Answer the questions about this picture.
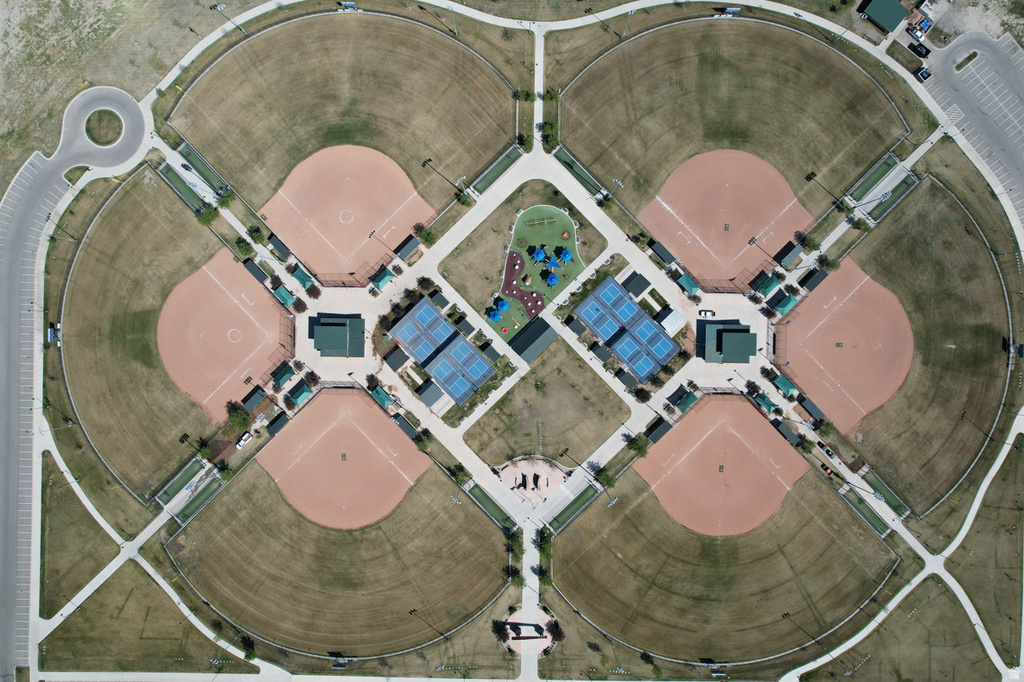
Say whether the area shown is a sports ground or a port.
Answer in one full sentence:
This image shows a sports ground.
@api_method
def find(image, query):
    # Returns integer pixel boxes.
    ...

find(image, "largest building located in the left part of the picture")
[314,318,365,357]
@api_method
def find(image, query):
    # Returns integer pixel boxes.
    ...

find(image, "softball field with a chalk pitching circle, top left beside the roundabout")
[154,12,530,286]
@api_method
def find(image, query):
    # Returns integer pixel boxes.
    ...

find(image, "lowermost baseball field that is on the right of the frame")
[549,394,913,664]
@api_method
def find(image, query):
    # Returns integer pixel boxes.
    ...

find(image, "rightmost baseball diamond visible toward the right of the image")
[775,177,1011,517]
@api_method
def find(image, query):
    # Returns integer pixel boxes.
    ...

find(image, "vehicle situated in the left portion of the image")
[236,434,251,449]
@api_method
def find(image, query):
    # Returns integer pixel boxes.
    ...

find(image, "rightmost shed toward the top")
[863,0,907,34]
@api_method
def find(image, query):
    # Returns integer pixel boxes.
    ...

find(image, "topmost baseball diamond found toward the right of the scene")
[543,18,909,293]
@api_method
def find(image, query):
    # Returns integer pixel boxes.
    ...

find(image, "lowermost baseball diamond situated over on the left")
[137,390,544,658]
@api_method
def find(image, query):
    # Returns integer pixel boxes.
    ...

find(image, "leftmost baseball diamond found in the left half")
[62,164,295,504]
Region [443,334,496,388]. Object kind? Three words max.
sports court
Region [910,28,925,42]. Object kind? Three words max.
vehicle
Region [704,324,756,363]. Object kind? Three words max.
building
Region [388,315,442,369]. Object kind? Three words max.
sports court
